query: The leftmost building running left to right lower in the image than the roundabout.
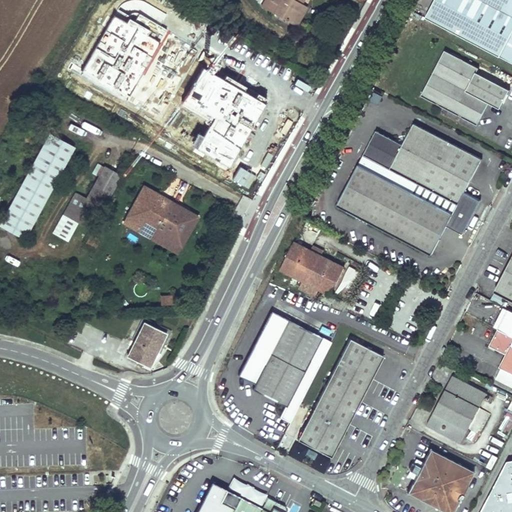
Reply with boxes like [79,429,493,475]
[198,484,262,512]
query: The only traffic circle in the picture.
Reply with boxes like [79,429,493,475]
[128,376,222,466]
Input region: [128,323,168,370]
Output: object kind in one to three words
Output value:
house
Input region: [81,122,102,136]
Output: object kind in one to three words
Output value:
vehicle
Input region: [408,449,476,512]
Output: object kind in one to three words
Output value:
building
